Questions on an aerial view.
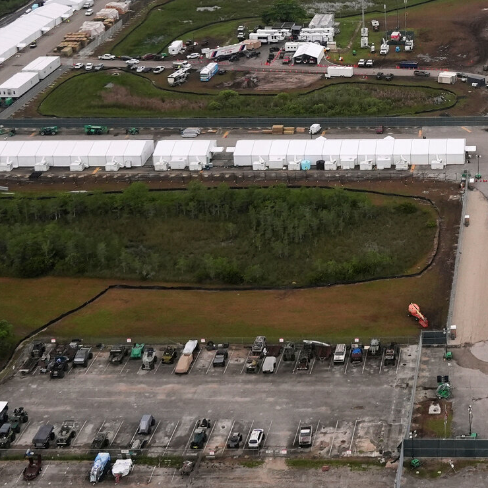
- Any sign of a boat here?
Yes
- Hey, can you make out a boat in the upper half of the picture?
No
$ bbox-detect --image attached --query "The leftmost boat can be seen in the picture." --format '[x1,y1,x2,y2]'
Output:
[16,451,49,487]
